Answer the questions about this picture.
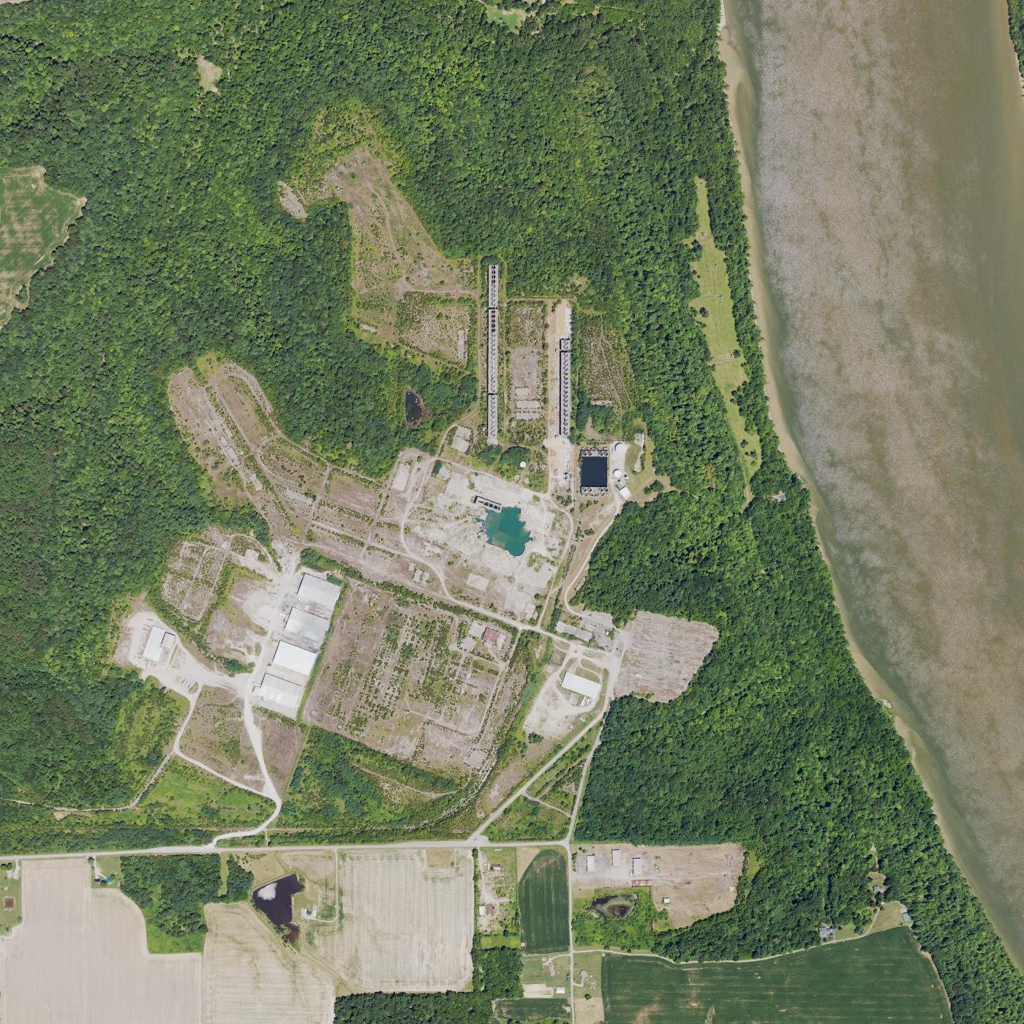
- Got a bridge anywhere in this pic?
No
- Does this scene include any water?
Yes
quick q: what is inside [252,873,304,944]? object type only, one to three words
pond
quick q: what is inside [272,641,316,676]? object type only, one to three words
building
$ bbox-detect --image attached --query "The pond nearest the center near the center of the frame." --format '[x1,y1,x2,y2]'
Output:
[475,506,532,556]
